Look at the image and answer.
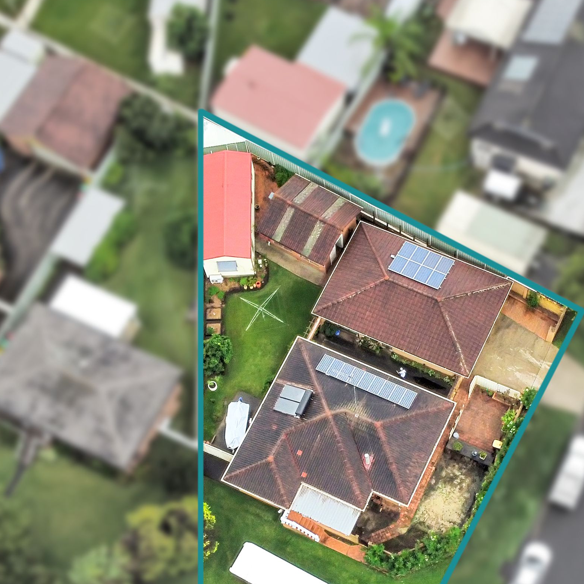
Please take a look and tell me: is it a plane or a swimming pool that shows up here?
swimming pool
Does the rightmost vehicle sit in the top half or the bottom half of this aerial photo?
bottom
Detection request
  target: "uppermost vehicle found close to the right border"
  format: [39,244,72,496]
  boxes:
[549,439,584,512]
